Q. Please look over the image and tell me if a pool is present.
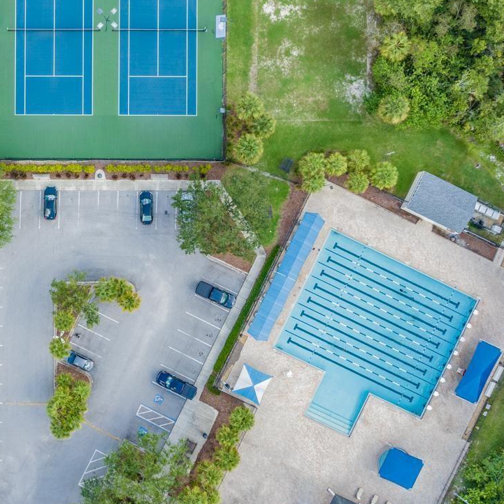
Yes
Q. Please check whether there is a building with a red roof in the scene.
No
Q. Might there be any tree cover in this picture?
Yes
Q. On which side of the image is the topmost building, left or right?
right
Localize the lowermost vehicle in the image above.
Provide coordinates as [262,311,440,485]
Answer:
[156,372,199,401]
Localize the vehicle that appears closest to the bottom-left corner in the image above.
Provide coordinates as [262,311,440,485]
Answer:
[64,350,96,373]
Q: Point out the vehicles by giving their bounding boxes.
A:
[43,185,58,219]
[139,191,155,225]
[195,280,238,309]
[64,350,96,373]
[156,372,199,401]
